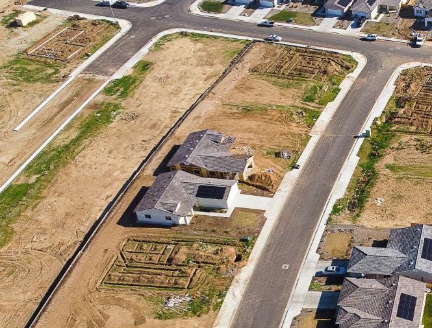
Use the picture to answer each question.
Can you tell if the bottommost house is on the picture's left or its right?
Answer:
right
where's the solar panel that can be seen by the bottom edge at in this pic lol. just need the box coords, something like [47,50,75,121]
[397,293,417,320]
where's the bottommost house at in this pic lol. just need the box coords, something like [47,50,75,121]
[337,275,427,328]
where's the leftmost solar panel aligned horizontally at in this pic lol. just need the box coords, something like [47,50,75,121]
[196,185,225,199]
